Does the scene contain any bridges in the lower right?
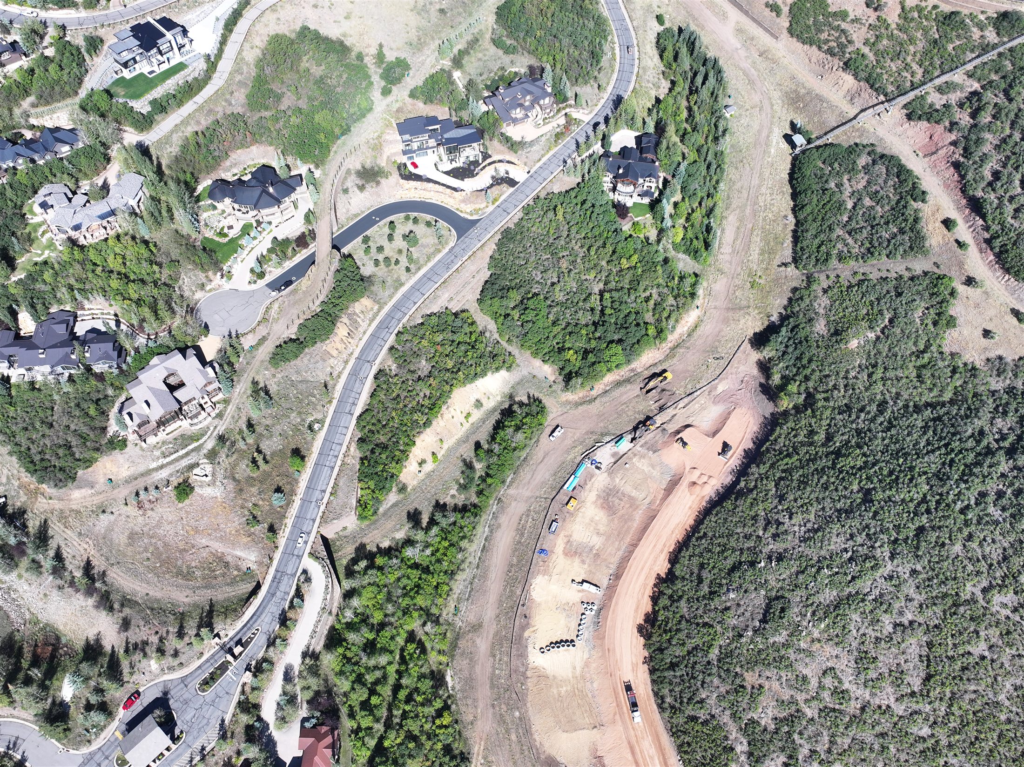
No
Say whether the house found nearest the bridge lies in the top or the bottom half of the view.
top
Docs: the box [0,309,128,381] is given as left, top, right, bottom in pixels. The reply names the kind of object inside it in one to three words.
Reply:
house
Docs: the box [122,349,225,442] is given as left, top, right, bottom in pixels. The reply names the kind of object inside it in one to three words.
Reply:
house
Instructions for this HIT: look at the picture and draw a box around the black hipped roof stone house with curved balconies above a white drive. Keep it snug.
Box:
[208,165,311,229]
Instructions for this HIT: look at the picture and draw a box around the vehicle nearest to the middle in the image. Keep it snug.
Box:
[549,425,565,441]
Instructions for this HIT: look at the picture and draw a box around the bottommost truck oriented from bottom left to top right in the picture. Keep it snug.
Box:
[120,691,141,713]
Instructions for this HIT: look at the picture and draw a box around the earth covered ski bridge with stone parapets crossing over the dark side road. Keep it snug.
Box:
[311,196,340,270]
